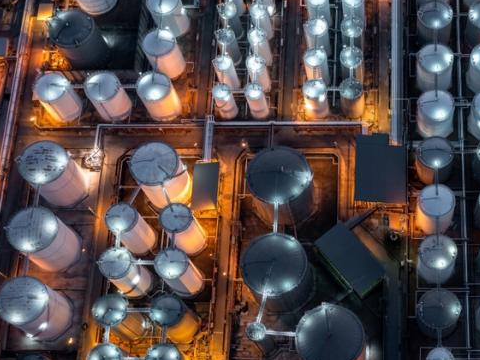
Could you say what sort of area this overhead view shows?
industrial area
